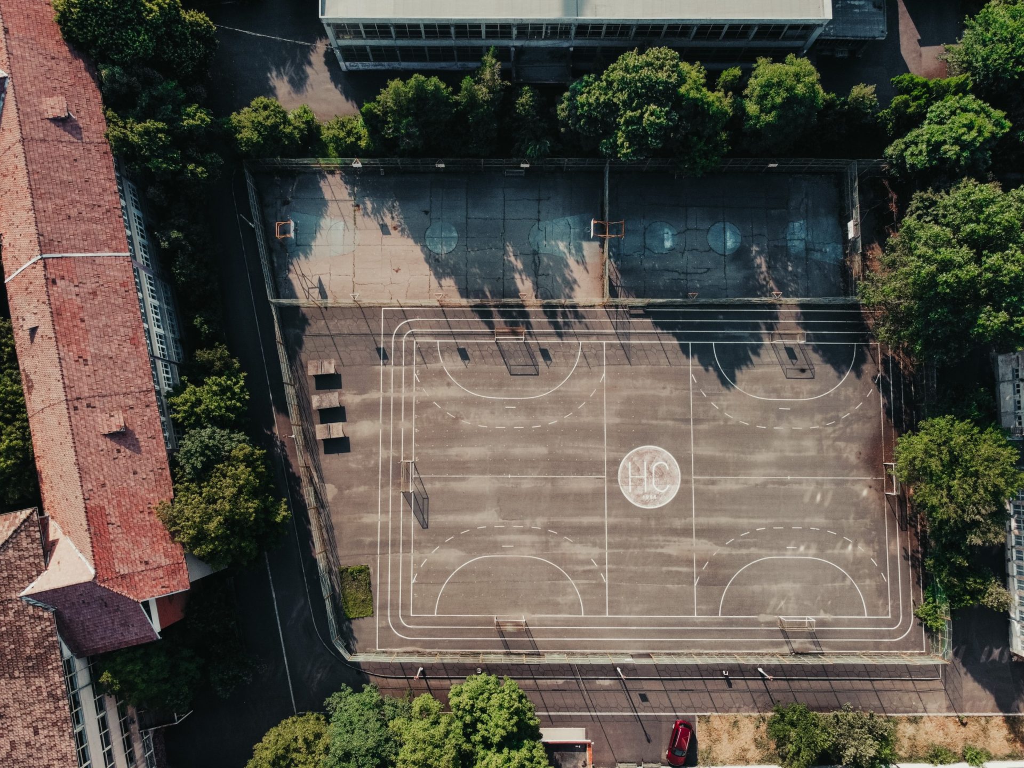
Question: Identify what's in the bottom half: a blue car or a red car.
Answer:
red car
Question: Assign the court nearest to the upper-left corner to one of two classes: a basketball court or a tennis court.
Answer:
basketball court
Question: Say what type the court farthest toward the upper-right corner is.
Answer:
basketball court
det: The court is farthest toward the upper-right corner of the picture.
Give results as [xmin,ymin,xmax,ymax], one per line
[603,175,840,301]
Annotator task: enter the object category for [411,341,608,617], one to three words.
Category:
sports court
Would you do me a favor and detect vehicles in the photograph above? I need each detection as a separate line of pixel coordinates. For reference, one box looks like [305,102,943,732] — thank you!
[666,718,693,766]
